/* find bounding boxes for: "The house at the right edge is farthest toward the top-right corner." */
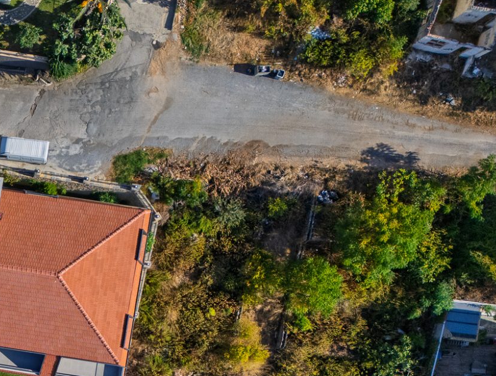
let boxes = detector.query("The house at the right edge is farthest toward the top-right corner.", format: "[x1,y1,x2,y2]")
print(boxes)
[410,0,496,81]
